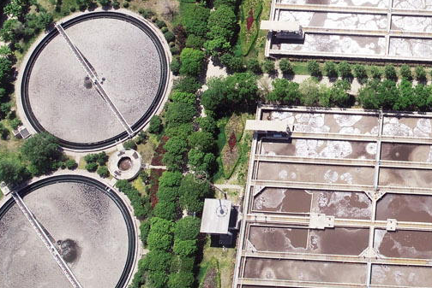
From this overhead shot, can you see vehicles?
No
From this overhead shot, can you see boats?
No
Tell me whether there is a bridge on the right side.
No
